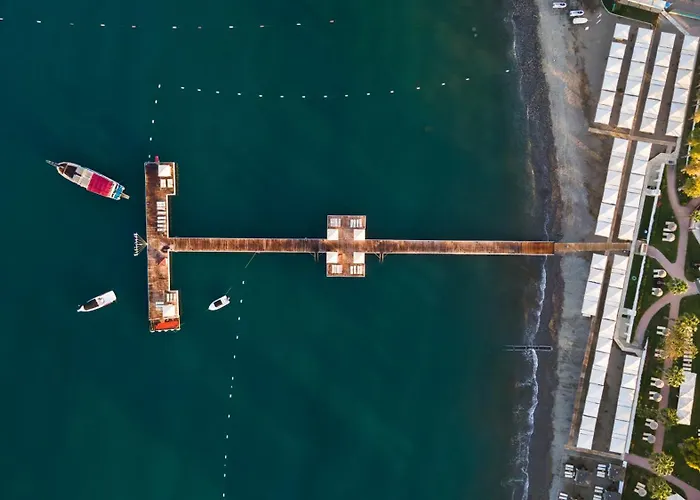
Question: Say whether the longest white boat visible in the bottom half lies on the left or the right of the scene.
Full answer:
The longest white boat visible in the bottom half appears in the left half of the scene.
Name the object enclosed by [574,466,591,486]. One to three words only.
umbrella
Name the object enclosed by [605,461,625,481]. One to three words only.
umbrella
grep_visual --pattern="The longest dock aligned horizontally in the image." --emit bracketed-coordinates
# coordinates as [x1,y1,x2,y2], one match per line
[145,162,554,333]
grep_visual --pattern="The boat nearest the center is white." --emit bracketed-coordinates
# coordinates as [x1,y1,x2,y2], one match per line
[208,295,230,311]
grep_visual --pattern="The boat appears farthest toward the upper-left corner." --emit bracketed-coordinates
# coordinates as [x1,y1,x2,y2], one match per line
[44,159,133,200]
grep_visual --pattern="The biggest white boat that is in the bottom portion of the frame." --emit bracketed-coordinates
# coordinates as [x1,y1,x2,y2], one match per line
[75,290,118,312]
